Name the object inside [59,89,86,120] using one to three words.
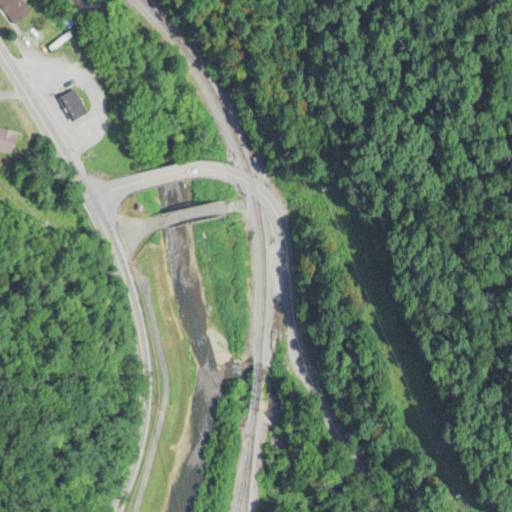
building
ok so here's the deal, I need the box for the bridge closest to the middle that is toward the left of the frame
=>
[162,202,227,226]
